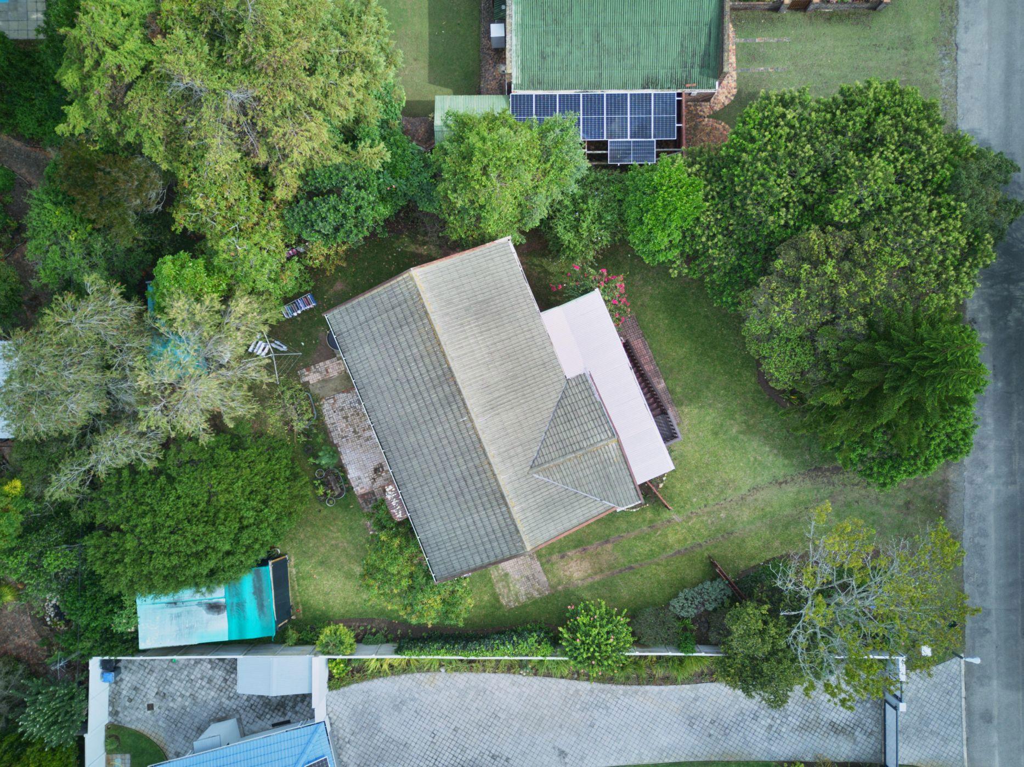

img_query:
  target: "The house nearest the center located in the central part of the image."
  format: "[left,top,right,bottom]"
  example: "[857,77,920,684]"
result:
[321,236,676,584]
